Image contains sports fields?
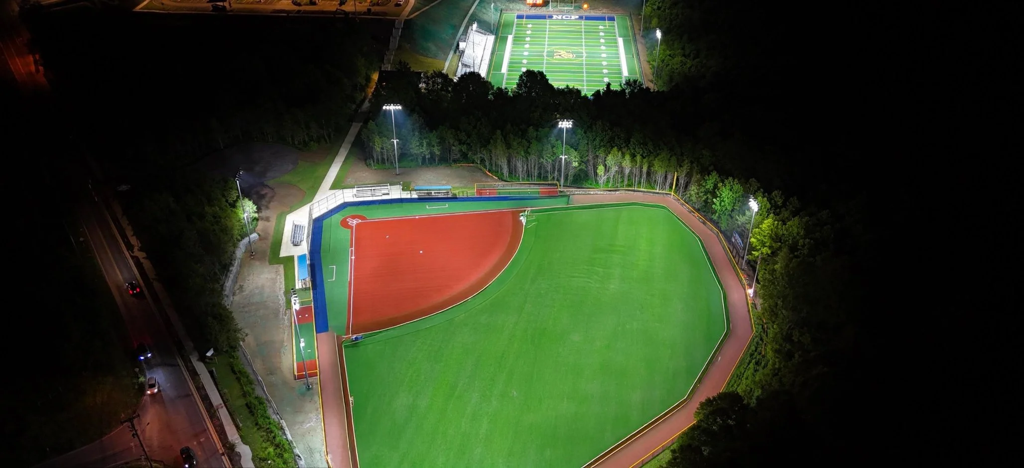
Yes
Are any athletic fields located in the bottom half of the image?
No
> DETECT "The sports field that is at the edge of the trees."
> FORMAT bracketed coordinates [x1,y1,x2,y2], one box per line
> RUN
[506,19,623,96]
